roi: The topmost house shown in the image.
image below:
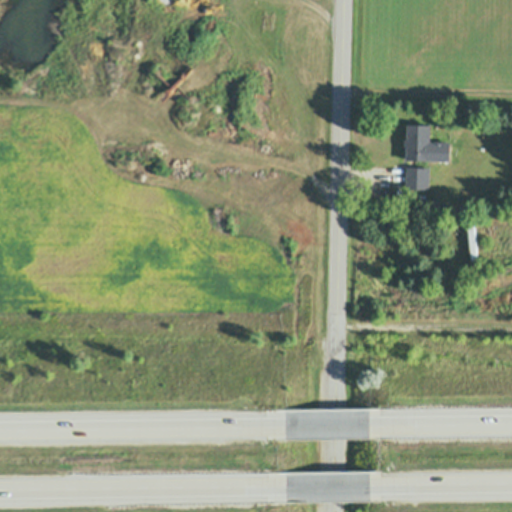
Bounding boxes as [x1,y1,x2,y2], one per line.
[407,126,450,164]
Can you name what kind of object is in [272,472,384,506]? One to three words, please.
overpass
